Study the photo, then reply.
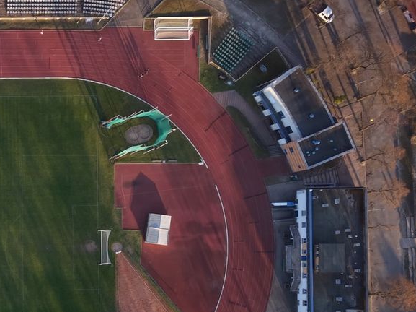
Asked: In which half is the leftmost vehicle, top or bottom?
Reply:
top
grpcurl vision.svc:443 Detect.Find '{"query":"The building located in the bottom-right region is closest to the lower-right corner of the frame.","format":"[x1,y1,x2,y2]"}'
[297,187,369,312]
